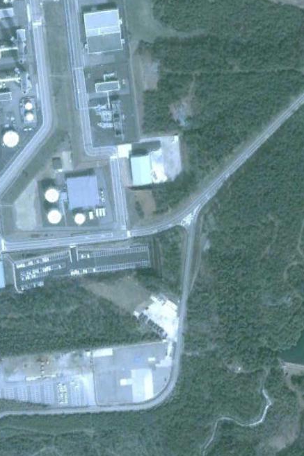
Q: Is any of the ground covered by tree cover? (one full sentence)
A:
Yes, there's tree cover in this view.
